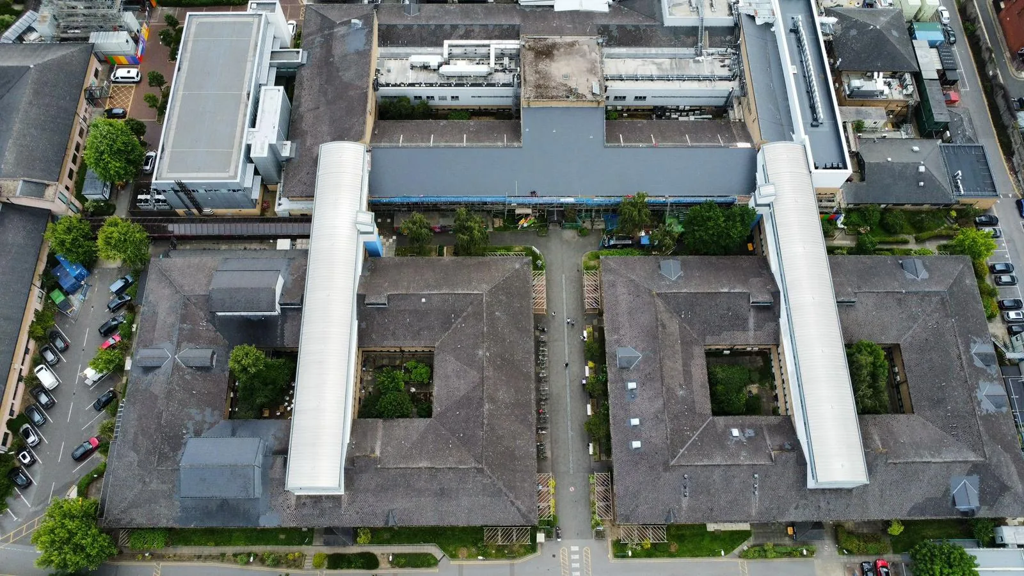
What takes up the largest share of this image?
buildings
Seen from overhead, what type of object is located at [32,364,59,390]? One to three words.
vehicle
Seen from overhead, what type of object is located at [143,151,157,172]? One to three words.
car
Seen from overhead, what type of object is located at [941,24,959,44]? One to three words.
car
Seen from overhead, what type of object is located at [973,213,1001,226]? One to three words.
vehicle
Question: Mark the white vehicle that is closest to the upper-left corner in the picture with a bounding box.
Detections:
[110,68,139,82]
